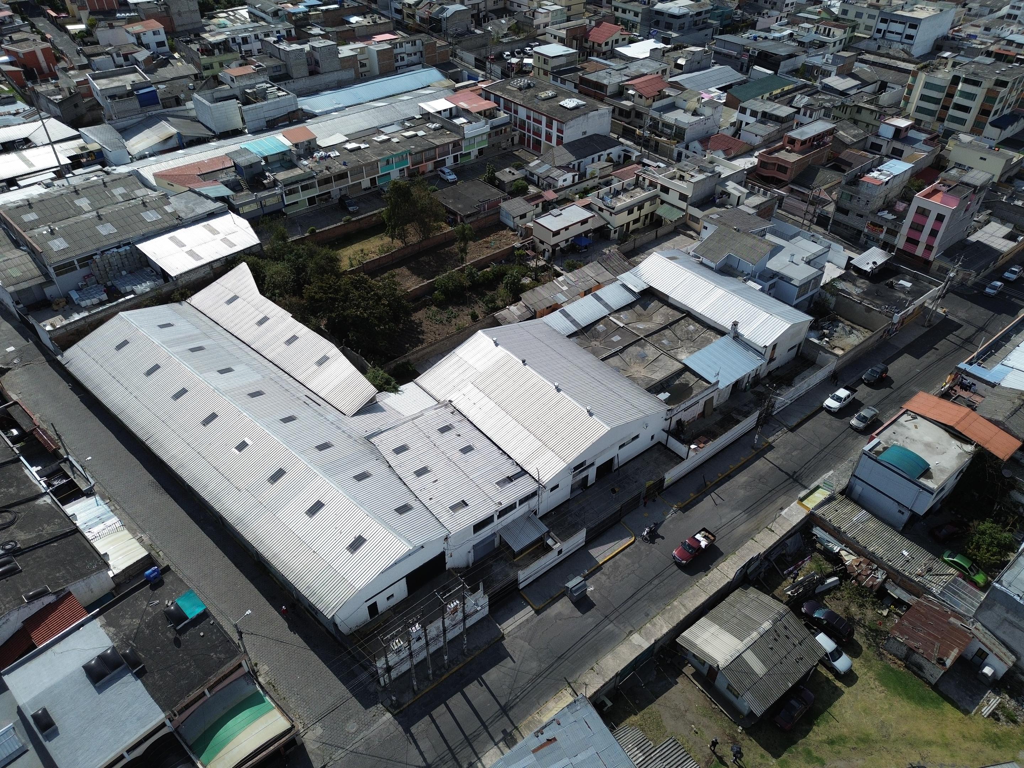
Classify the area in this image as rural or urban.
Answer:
urban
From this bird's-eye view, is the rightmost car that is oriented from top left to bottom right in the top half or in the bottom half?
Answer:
bottom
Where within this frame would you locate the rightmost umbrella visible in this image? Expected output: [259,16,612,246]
[728,742,742,756]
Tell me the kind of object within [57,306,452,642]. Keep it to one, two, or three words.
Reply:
warehouse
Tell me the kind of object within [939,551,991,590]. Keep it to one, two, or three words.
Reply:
car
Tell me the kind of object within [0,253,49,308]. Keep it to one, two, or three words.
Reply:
shed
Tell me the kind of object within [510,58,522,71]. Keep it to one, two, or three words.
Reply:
vehicle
